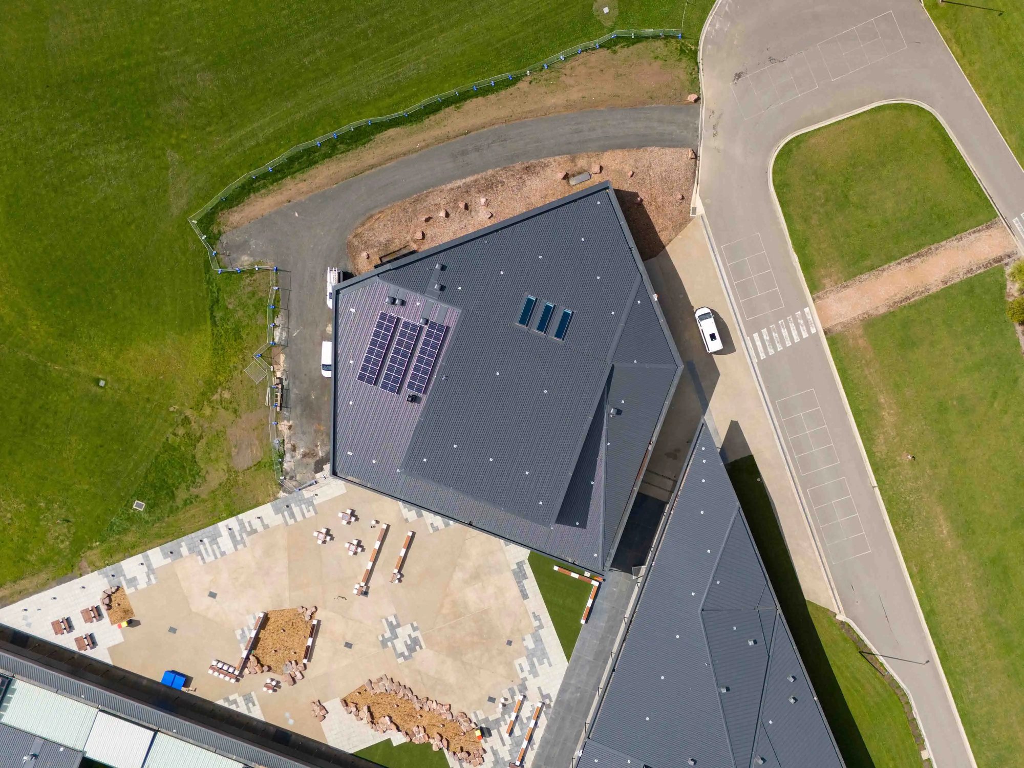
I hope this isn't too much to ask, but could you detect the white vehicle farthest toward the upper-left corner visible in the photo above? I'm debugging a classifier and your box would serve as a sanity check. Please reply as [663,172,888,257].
[326,263,343,308]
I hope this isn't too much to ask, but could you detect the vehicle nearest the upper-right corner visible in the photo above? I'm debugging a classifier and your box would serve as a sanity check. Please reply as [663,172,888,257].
[695,305,724,354]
